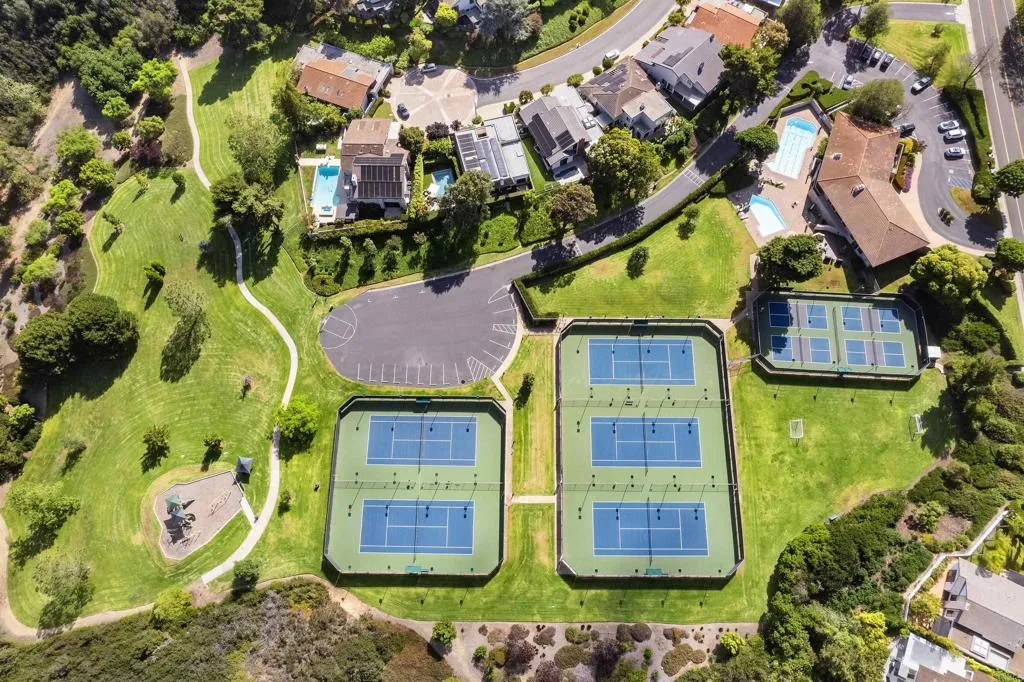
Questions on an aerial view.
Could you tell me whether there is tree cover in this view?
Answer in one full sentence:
Yes, the picture does contain tree cover.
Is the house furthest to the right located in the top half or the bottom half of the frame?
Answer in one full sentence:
The house furthest to the right sits in the bottom half of the picture.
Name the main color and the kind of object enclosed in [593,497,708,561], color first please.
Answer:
blue tennis court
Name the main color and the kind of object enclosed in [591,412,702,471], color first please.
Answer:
blue tennis court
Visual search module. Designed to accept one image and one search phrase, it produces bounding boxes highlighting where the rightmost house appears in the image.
[934,558,1024,669]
